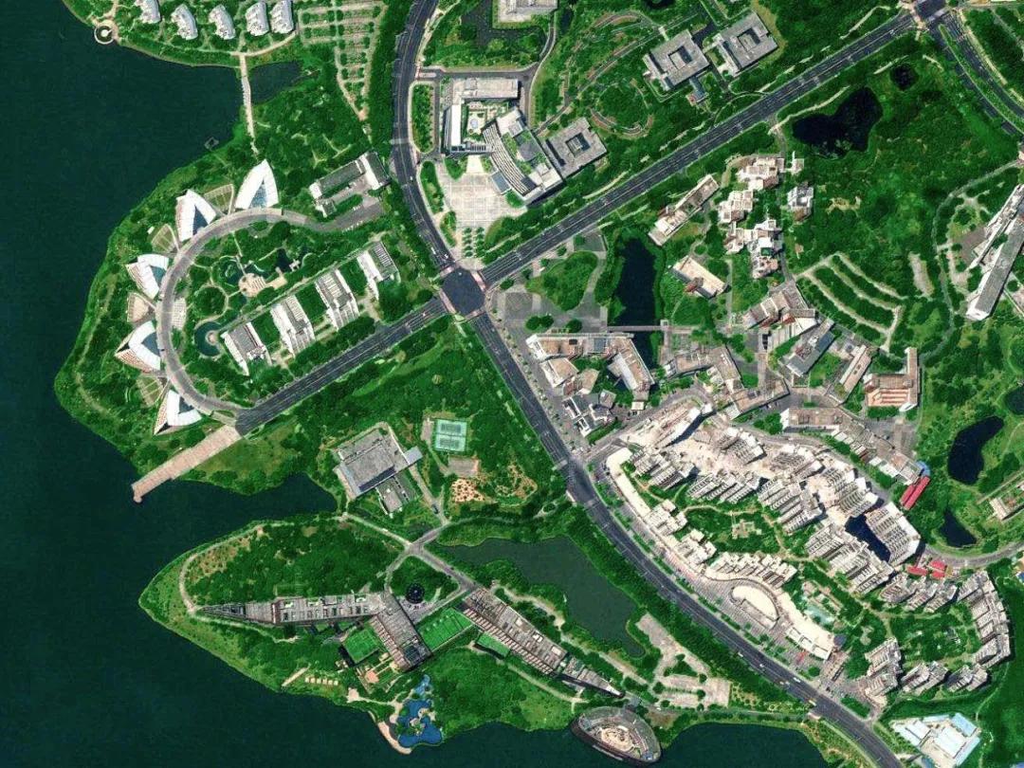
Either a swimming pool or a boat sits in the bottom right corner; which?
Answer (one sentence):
It is a swimming pool that can be seen in the bottom right corner.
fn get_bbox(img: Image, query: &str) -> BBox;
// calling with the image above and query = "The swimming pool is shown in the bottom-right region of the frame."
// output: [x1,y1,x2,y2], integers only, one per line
[804,604,835,624]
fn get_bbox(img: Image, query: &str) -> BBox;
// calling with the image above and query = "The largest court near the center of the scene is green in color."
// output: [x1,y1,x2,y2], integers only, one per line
[434,419,468,452]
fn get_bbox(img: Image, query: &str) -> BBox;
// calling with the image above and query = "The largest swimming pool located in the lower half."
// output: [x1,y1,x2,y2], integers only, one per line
[398,675,442,746]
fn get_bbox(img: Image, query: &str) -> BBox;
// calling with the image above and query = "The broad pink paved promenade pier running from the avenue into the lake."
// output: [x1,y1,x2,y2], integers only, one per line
[132,426,239,503]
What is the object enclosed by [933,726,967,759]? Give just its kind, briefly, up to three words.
shed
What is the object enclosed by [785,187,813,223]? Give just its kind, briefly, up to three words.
house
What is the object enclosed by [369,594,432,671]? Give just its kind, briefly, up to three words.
building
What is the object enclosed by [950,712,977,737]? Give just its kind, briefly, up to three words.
shed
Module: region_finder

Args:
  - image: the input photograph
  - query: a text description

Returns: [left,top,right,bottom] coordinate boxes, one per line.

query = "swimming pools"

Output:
[398,675,442,746]
[804,604,835,624]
